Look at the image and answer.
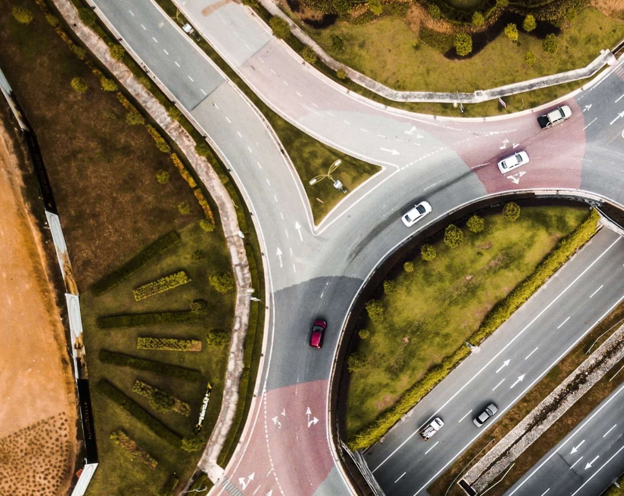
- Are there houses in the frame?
No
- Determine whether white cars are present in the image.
Yes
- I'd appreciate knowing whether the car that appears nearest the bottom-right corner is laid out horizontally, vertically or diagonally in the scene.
diagonally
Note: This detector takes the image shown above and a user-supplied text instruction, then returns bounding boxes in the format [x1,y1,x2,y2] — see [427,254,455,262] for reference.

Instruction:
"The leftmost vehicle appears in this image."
[310,319,326,349]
